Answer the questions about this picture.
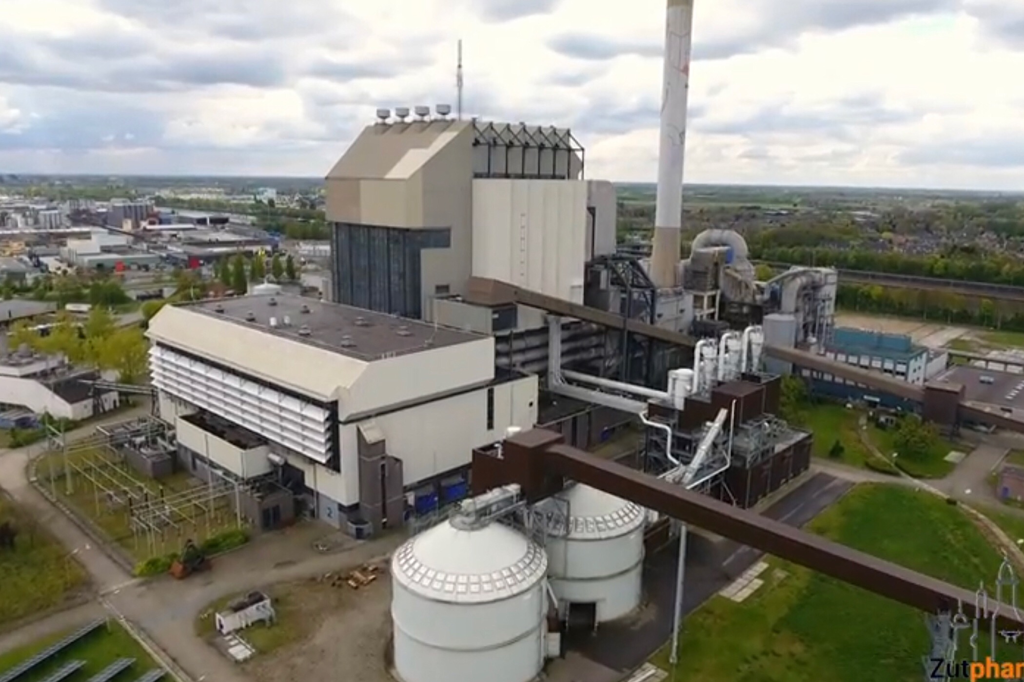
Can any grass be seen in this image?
Yes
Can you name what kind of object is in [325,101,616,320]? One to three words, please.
building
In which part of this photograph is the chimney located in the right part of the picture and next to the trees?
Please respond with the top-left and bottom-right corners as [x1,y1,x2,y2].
[651,0,695,289]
